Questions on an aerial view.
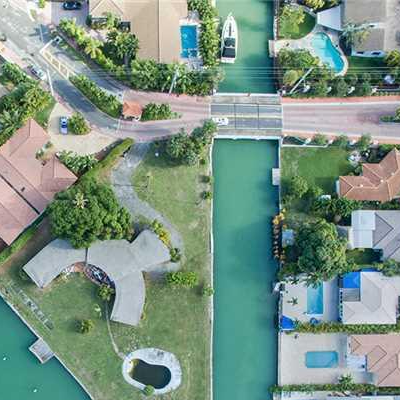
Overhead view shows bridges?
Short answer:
Yes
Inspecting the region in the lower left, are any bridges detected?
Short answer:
No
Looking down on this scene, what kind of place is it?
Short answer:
residential area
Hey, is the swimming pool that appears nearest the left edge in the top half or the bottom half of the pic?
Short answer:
bottom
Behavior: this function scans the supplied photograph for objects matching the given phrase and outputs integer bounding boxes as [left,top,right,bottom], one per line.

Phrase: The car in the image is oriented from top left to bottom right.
[30,64,46,80]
